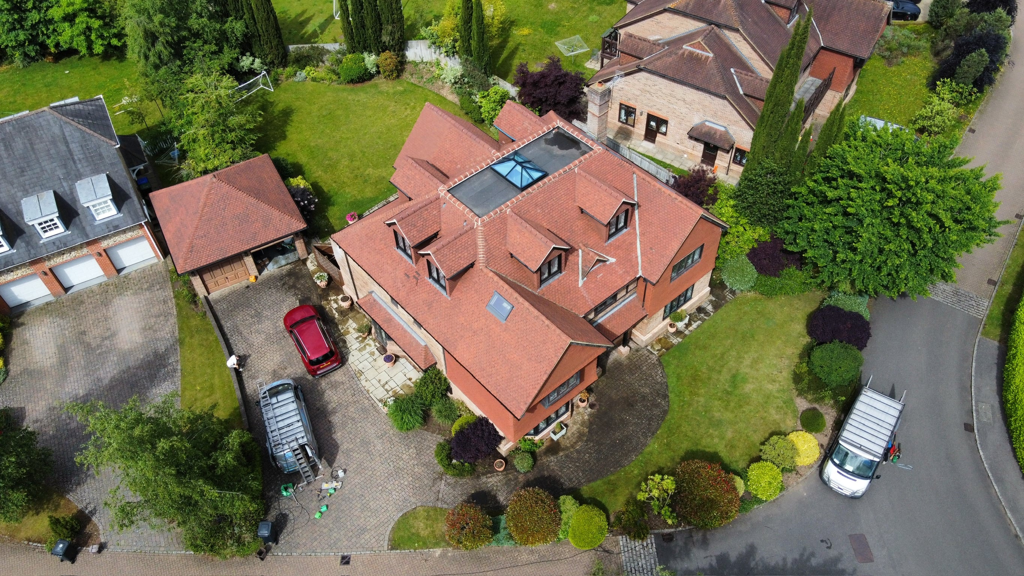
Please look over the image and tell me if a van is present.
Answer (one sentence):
Yes, the picture does show a van.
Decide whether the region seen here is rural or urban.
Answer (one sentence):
It looks urban.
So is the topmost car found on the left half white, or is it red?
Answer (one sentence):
The color of the topmost car found on the left half is red.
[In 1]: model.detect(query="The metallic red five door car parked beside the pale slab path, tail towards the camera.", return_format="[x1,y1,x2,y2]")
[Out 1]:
[283,303,344,384]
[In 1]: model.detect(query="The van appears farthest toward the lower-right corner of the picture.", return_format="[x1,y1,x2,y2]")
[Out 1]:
[816,376,909,510]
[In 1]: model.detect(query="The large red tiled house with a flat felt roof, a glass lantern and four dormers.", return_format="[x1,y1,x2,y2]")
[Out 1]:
[330,98,729,461]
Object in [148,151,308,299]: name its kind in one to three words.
building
